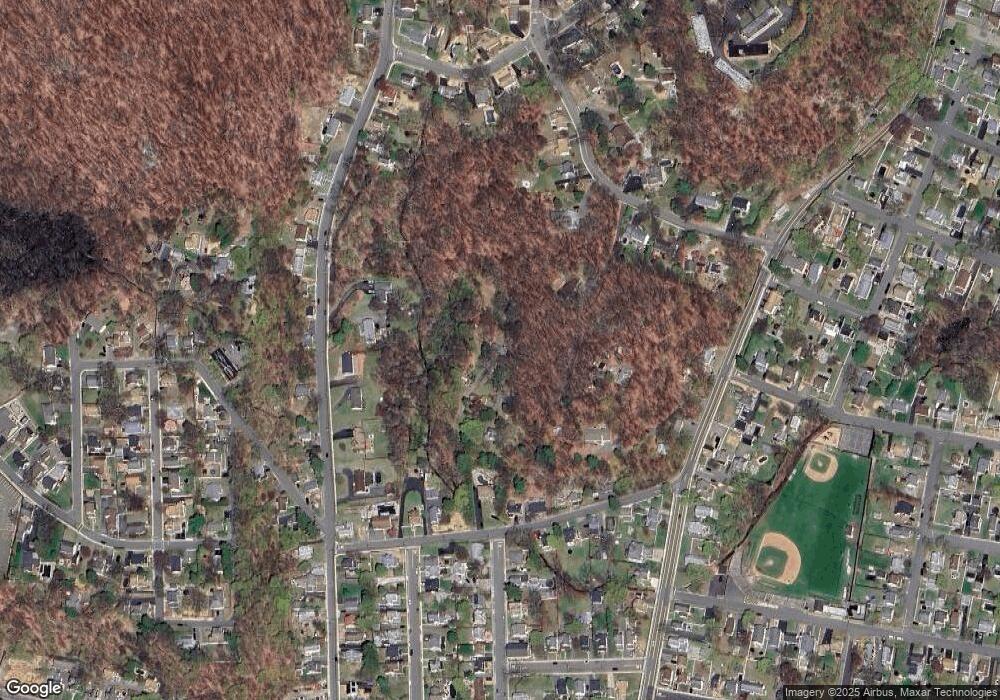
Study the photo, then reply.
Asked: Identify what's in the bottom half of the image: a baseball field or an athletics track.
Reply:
baseball field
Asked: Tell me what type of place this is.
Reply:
residential area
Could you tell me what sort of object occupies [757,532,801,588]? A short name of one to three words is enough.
baseball field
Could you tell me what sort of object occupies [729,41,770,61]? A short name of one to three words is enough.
building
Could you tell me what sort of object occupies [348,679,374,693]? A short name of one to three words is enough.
house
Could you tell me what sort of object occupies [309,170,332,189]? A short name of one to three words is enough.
house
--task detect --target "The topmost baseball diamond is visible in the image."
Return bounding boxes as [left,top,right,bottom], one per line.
[804,447,841,481]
